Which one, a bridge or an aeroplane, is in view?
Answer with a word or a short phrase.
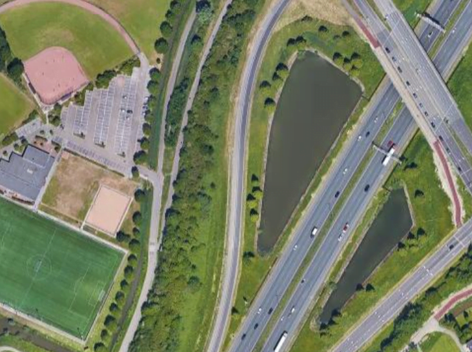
bridge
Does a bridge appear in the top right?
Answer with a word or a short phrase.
Yes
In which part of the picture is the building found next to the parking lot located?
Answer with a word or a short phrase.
left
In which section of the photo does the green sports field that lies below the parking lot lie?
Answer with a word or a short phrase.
bottom left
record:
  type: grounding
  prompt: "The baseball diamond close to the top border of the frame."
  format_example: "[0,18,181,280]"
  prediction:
[0,0,141,115]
